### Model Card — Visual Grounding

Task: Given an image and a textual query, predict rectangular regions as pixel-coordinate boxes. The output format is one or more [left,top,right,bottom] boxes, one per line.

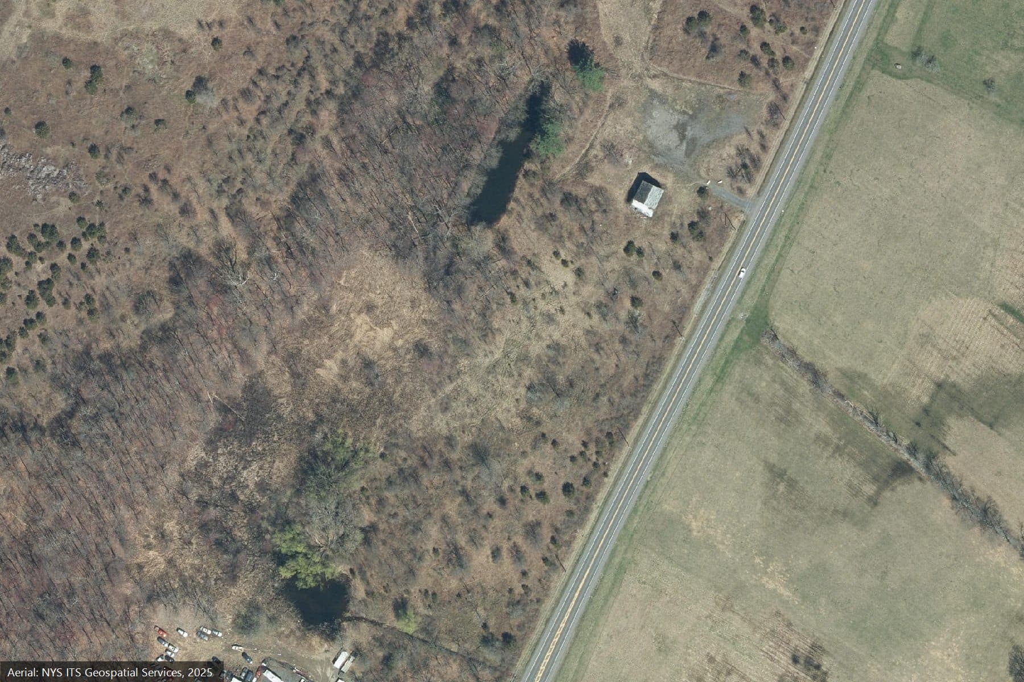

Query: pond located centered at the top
[466,73,553,226]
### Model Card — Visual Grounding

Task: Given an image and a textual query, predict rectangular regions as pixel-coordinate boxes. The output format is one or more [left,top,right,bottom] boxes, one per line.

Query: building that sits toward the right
[630,179,661,215]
